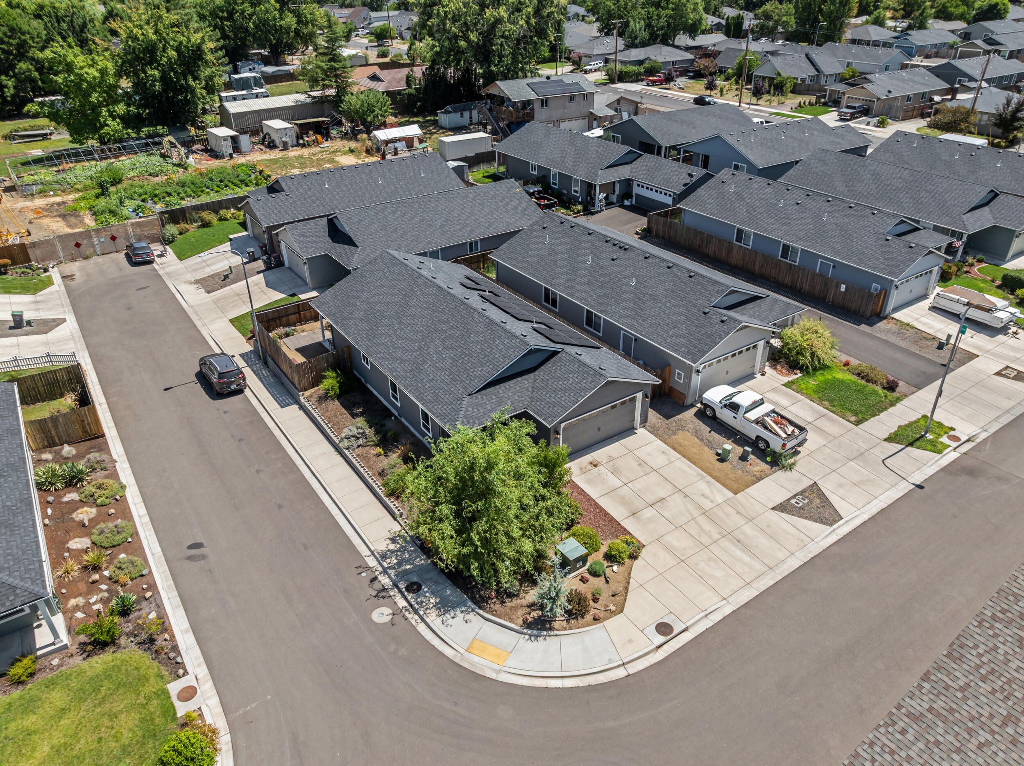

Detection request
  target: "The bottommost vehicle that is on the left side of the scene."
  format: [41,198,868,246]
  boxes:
[195,351,247,399]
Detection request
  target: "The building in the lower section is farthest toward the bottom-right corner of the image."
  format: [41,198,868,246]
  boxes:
[841,571,1024,766]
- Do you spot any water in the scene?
No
